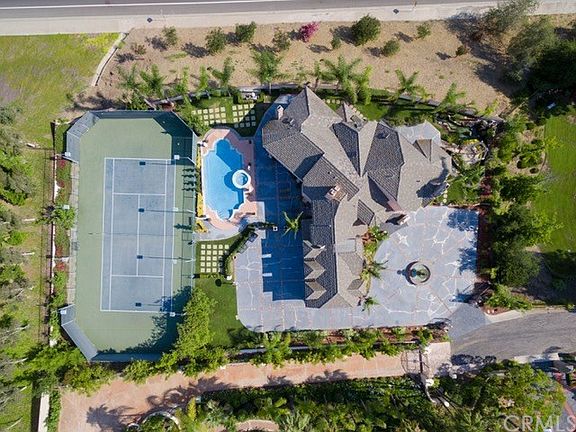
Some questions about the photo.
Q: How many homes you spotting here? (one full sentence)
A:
In total, 1 home can be seen.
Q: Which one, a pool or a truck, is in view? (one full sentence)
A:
Visible in the photo is a pool.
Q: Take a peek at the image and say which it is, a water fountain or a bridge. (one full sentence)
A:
Of the two, only a water fountain appears.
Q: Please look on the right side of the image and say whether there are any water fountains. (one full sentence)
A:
Yes, the scene does show a water fountain on the right side of the image.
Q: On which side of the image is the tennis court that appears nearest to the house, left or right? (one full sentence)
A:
The tennis court that appears nearest to the house is on the left side of the image.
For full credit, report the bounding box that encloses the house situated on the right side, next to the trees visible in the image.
[263,87,452,309]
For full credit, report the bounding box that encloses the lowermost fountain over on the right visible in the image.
[407,260,432,286]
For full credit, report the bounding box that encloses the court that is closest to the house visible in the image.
[76,117,196,353]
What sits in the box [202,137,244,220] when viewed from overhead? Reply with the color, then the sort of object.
blue swimming pool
